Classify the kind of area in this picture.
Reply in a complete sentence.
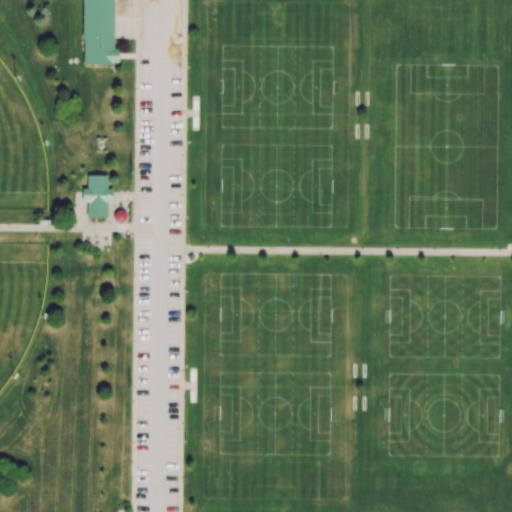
What you see here is a sports ground.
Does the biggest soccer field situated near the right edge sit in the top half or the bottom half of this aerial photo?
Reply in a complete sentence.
Seen from above, the biggest soccer field situated near the right edge lies in the top half of the view.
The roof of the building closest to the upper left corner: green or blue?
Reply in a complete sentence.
In this view, the roof of the building closest to the upper left corner is green.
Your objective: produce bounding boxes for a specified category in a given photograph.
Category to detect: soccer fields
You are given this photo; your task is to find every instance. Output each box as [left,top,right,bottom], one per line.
[390,276,502,358]
[389,374,500,457]
[222,46,333,128]
[204,274,348,500]
[206,2,349,228]
[220,274,332,356]
[221,145,332,227]
[220,373,331,455]
[395,65,499,230]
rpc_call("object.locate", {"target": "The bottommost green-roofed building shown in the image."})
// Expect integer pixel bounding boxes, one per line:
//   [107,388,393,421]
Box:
[83,176,114,218]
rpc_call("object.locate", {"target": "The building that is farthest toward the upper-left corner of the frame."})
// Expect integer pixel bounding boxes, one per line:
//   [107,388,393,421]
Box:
[84,0,120,65]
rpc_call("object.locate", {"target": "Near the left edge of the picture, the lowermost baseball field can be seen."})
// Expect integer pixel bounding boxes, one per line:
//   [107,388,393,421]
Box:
[0,244,48,390]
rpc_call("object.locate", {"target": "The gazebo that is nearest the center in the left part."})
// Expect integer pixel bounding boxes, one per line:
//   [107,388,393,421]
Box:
[114,210,128,222]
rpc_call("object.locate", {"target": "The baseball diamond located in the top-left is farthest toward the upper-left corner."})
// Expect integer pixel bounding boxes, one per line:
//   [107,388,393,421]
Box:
[0,58,48,209]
